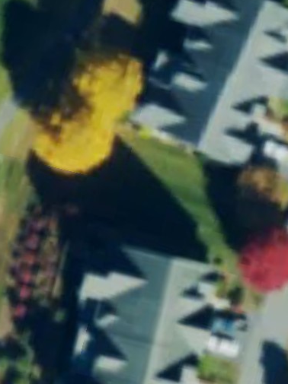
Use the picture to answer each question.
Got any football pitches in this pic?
No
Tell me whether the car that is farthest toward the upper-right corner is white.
Yes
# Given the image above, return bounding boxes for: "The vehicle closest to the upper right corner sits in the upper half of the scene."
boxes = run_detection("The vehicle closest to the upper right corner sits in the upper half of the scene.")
[264,140,288,162]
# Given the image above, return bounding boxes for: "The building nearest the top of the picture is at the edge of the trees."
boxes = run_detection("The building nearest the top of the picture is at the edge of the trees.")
[134,0,288,170]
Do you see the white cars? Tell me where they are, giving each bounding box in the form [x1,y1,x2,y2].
[211,338,239,354]
[264,140,288,162]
